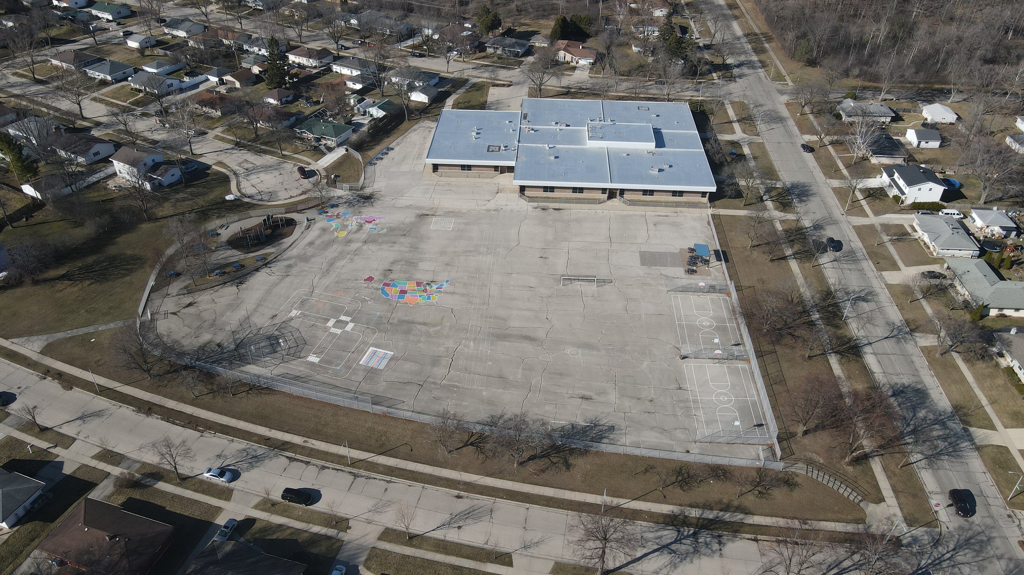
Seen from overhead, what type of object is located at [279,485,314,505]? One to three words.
car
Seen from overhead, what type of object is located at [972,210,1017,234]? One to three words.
building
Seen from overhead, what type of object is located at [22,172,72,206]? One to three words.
building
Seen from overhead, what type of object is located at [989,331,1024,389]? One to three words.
house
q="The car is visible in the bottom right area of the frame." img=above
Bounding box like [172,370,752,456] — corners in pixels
[950,484,978,515]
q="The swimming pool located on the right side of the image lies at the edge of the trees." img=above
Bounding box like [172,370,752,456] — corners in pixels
[940,175,966,191]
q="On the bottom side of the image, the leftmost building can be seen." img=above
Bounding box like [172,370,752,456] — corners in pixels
[0,463,47,530]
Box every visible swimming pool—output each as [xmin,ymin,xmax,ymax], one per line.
[940,175,966,191]
[183,71,201,80]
